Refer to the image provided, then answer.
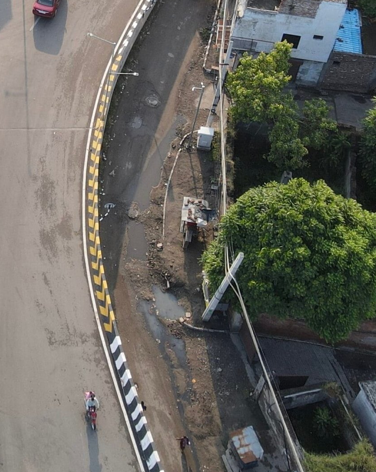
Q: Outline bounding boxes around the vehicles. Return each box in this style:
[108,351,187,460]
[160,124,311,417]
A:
[30,0,59,20]
[87,399,104,430]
